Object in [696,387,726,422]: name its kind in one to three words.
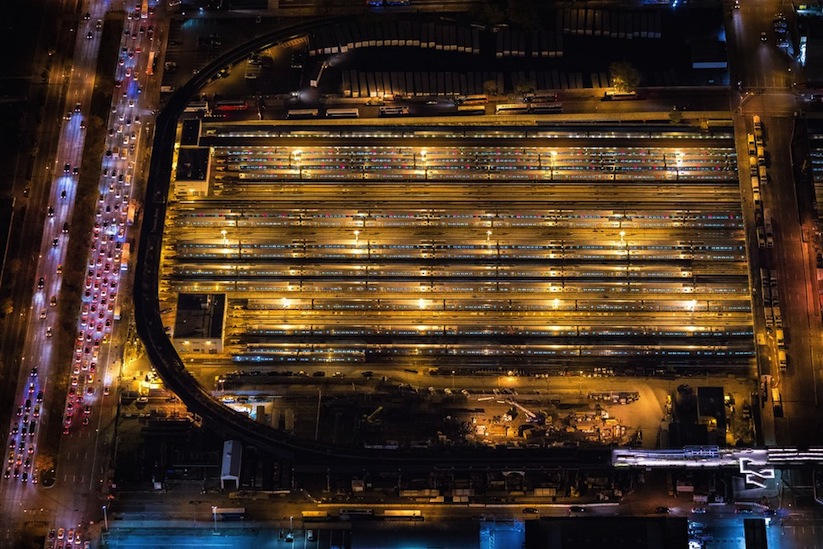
building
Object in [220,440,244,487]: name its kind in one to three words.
shed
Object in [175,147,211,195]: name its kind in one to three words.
building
